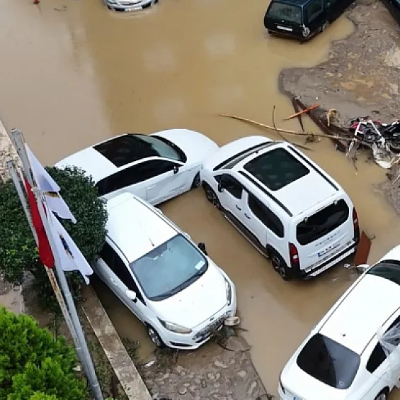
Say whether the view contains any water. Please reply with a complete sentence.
Yes, water can be seen from above here.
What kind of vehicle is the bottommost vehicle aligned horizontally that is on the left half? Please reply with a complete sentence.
Specifically, the bottommost vehicle aligned horizontally that is on the left half is a car.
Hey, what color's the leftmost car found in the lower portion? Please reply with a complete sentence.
The leftmost car found in the lower portion is white.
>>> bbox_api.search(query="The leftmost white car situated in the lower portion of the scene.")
[92,191,233,338]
